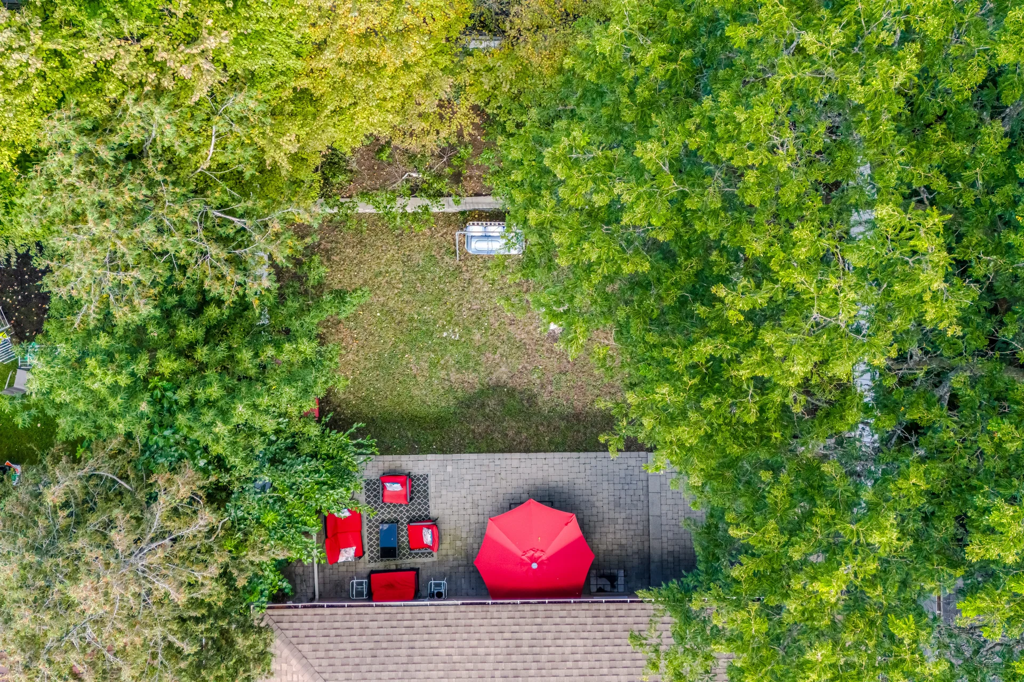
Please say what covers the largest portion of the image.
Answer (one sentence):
What you mostly see from above here is trees.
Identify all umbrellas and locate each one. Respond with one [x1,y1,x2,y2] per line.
[475,499,593,602]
